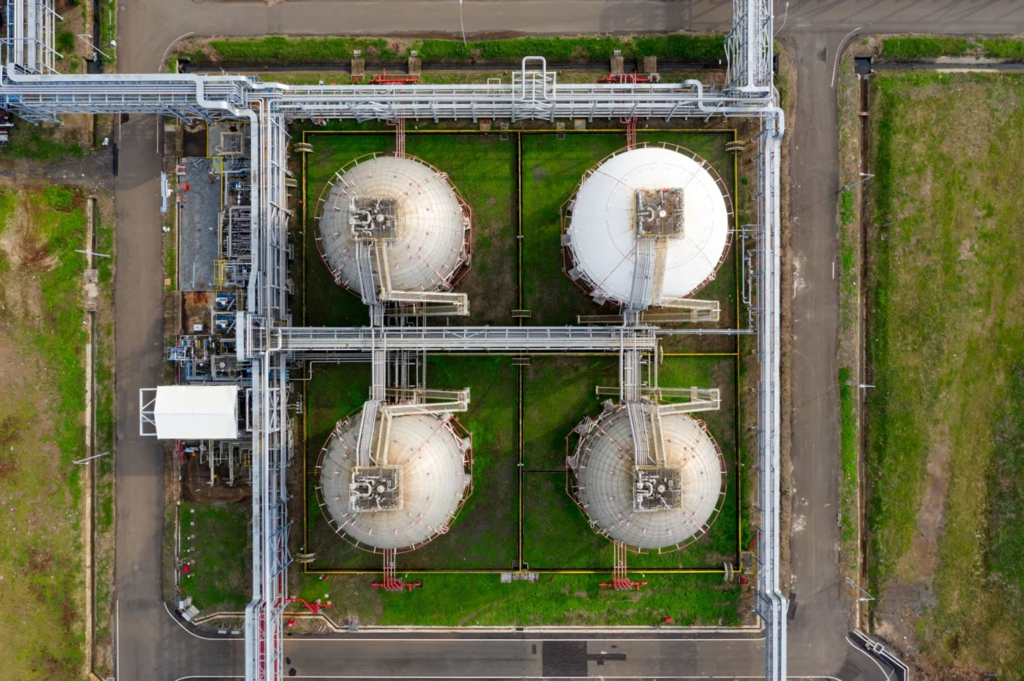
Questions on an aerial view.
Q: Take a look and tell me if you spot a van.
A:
No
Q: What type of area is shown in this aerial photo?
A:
industrial area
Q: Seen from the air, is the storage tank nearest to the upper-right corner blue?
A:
No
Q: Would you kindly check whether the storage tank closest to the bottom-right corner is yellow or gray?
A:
gray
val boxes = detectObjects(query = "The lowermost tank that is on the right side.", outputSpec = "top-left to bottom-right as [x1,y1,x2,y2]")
[562,328,726,559]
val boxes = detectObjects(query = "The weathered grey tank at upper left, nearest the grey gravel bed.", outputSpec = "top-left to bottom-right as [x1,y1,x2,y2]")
[314,146,477,324]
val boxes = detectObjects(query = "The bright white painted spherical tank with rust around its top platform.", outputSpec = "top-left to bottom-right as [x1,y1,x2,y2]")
[557,141,731,325]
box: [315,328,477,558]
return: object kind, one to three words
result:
storage tank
